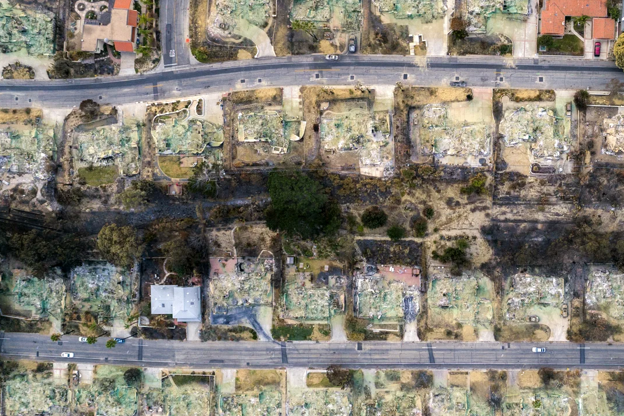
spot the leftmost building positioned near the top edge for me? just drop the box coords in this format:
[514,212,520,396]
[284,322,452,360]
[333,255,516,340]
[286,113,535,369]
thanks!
[0,8,63,59]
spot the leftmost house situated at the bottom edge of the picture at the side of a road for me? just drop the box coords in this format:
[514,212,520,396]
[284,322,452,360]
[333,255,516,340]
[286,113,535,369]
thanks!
[0,372,72,416]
